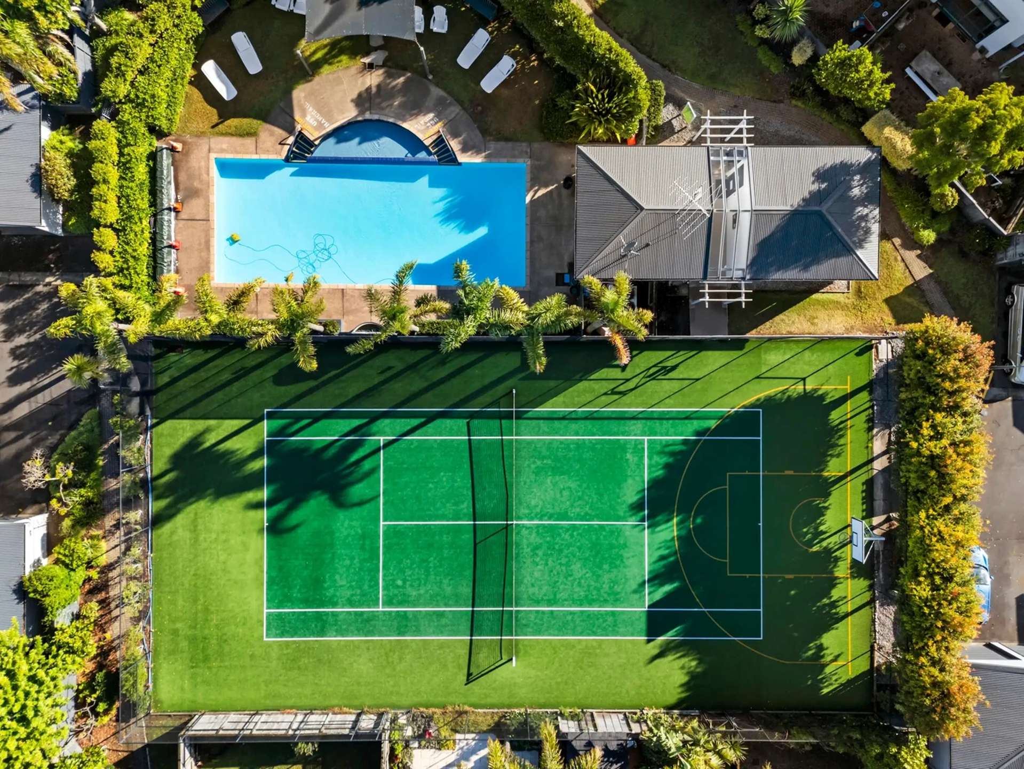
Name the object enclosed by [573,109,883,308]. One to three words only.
building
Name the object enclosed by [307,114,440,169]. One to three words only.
swimming pool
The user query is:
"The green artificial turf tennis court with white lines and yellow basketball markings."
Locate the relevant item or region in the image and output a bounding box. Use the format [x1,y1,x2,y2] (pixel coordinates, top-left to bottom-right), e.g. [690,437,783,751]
[152,342,874,712]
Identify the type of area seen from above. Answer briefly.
sports ground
